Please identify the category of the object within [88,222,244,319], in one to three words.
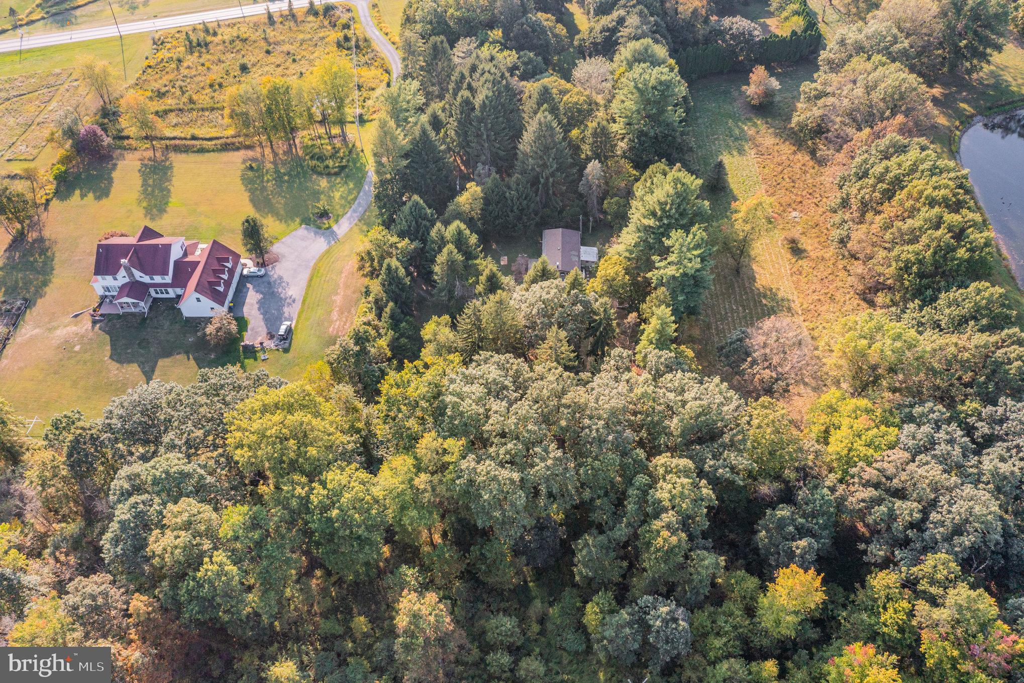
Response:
house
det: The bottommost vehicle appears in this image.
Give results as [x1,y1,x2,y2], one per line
[276,324,293,343]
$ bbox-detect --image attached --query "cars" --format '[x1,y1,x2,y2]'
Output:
[242,268,264,278]
[276,324,293,343]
